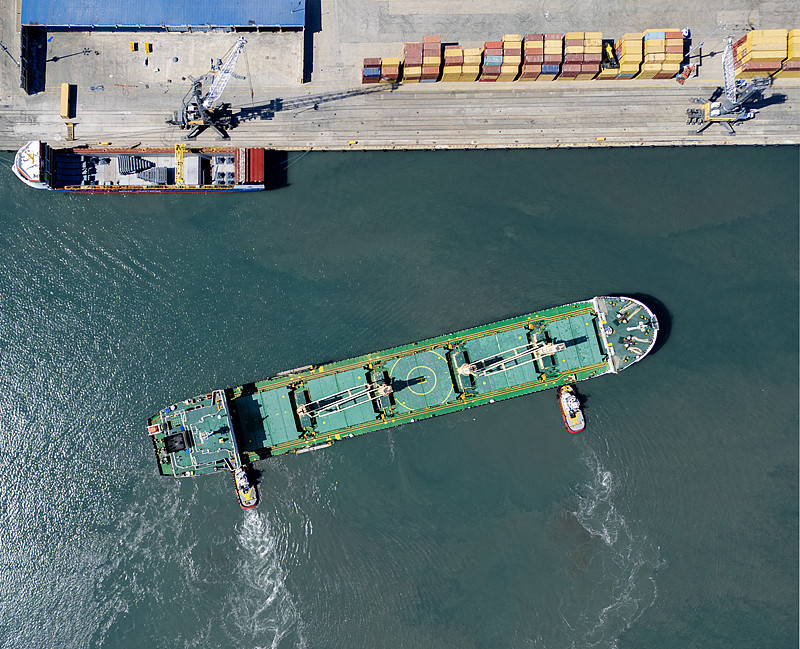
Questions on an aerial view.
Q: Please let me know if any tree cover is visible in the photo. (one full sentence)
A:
No, the picture contains no tree cover.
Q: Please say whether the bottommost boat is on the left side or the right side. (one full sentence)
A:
The bottommost boat appears in the left half of the scene.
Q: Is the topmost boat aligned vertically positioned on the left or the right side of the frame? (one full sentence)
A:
It is on the right.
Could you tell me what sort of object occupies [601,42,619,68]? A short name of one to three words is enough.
work vehicle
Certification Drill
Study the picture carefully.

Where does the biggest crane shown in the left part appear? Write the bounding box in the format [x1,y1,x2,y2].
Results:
[174,36,260,140]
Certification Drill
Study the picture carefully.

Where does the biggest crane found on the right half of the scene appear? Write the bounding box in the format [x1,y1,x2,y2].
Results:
[688,37,772,134]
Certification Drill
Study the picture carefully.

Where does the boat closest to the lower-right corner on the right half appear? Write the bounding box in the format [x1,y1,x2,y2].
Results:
[558,385,584,433]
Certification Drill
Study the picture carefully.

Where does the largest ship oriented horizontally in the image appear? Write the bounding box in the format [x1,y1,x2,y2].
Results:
[144,295,666,478]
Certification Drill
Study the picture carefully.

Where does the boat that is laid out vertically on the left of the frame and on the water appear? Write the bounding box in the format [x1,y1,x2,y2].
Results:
[231,463,259,510]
